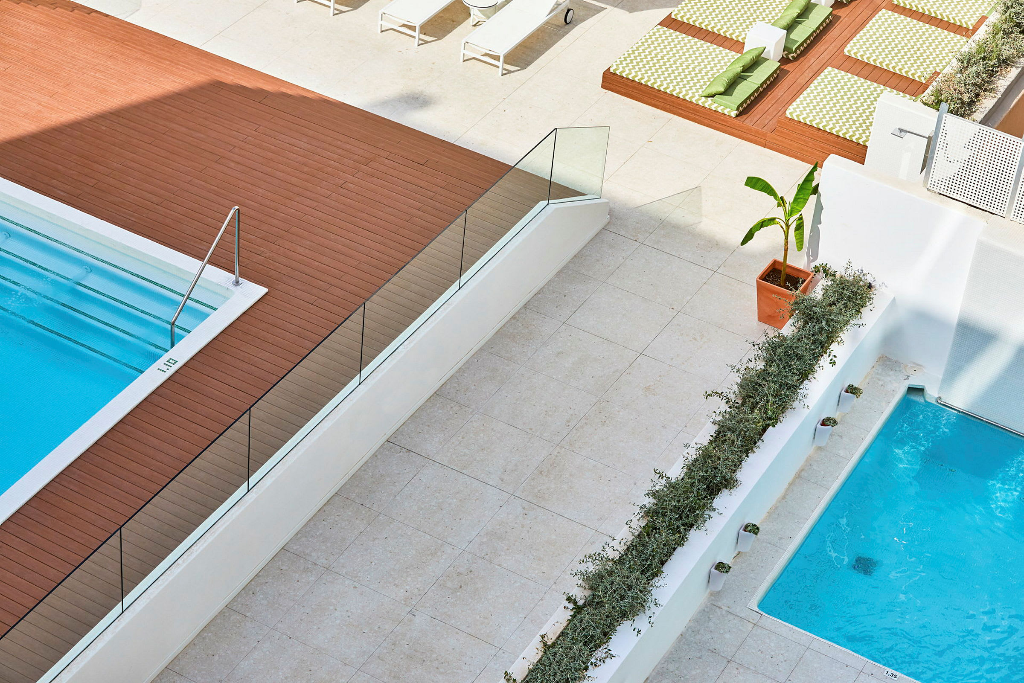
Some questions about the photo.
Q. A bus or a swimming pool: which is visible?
swimming pool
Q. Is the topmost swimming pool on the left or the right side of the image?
left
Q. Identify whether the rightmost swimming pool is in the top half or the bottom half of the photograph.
bottom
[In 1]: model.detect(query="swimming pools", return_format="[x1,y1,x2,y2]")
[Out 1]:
[761,389,1024,683]
[0,194,235,486]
